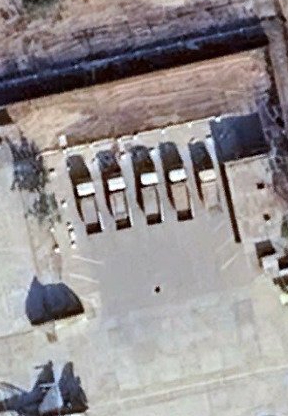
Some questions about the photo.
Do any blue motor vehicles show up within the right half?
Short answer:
No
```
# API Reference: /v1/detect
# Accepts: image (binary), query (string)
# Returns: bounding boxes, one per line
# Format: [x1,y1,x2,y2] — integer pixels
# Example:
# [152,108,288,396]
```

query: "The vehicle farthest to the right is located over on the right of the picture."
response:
[197,163,224,208]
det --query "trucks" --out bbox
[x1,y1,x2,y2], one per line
[76,177,104,232]
[197,163,224,208]
[106,173,133,226]
[168,164,193,219]
[139,168,164,222]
